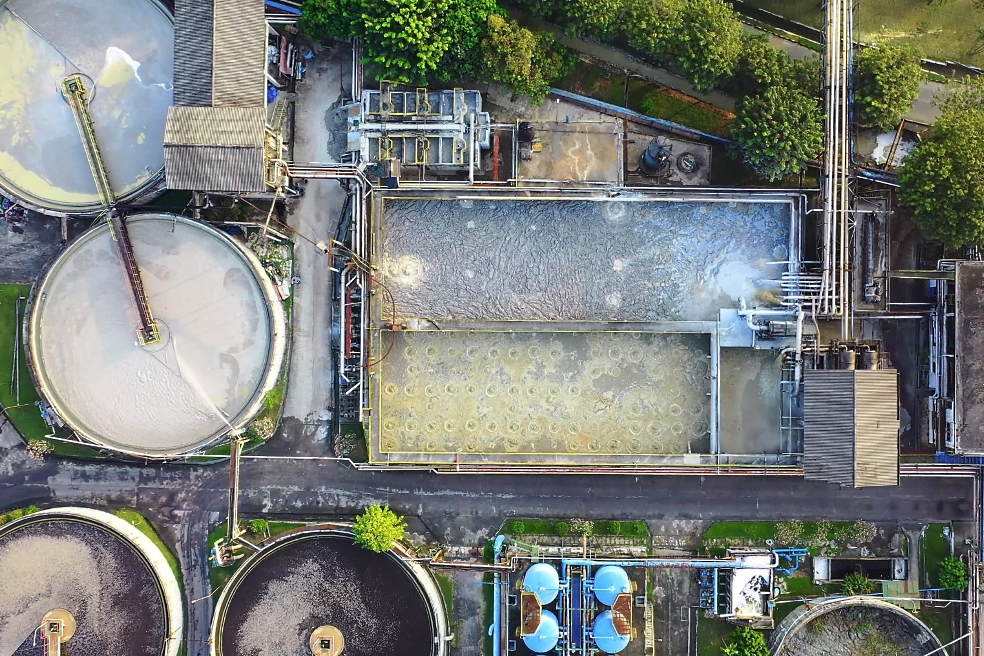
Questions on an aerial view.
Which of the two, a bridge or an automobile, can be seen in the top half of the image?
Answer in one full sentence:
You can see a bridge in the top half of the image.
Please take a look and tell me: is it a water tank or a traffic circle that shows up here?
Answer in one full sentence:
Looking from above, you can make out a water tank.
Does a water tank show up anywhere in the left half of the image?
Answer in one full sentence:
Yes, a water tank can be seen in the left half of the image.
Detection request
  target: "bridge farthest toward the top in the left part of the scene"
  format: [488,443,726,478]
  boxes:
[57,71,118,207]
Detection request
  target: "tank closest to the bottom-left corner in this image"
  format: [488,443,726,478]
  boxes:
[0,505,184,656]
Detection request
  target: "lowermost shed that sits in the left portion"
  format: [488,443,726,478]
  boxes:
[160,108,273,202]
